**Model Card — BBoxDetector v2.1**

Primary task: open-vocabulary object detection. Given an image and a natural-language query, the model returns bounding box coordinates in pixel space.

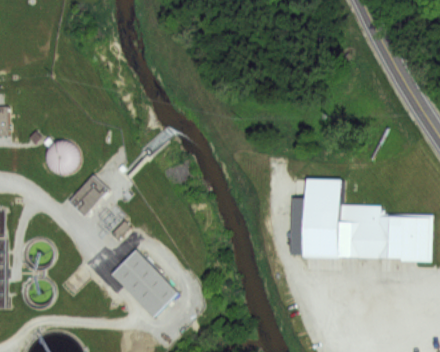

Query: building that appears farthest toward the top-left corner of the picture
[0,106,15,138]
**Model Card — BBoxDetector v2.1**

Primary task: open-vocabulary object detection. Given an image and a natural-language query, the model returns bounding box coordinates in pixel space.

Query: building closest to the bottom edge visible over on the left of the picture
[112,250,178,318]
